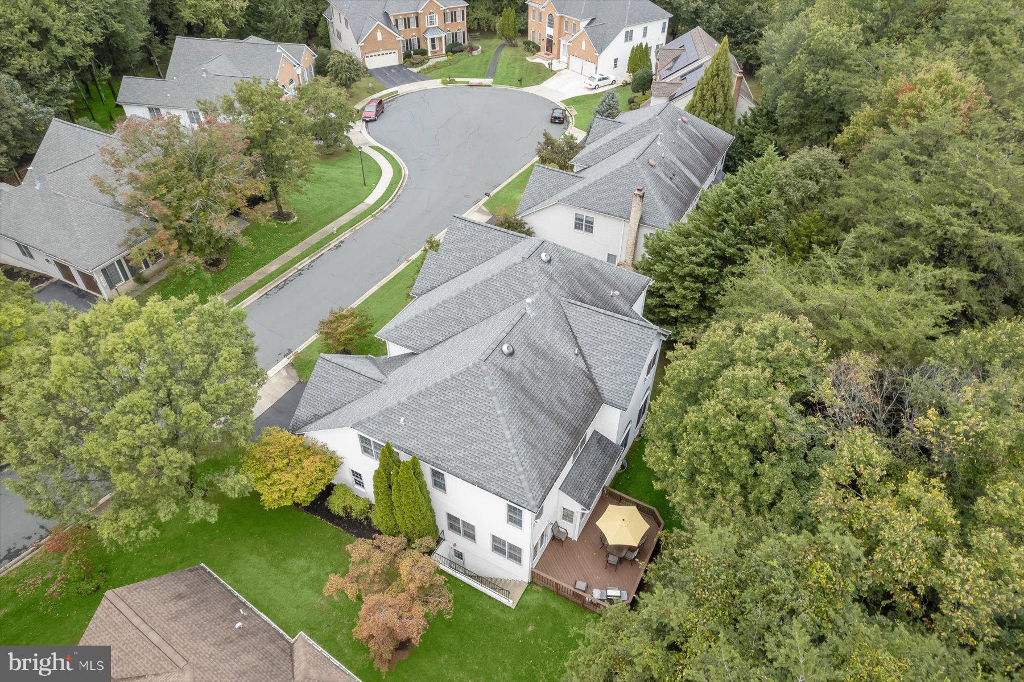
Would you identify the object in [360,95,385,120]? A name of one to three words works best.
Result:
car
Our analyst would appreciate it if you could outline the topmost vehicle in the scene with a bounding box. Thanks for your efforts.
[584,72,618,88]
